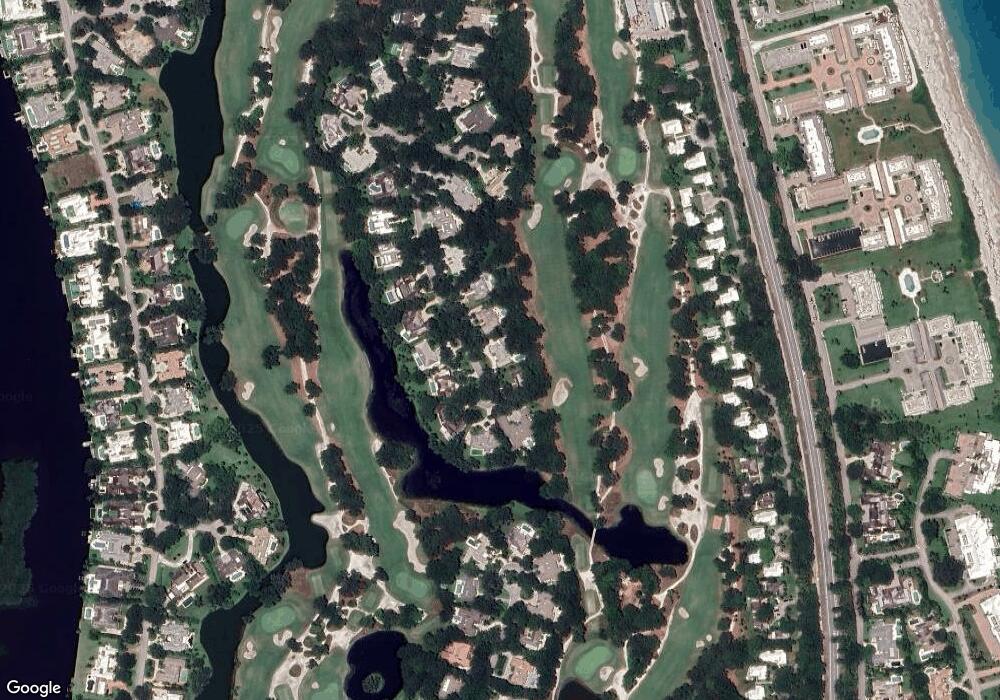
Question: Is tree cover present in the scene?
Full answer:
Yes, tree cover shows up in the scene.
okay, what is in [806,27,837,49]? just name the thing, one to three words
building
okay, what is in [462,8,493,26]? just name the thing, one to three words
house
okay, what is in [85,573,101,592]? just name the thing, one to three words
swimming pool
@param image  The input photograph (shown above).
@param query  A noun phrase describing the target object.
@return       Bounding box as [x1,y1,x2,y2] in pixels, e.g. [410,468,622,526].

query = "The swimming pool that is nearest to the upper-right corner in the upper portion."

[858,125,883,144]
